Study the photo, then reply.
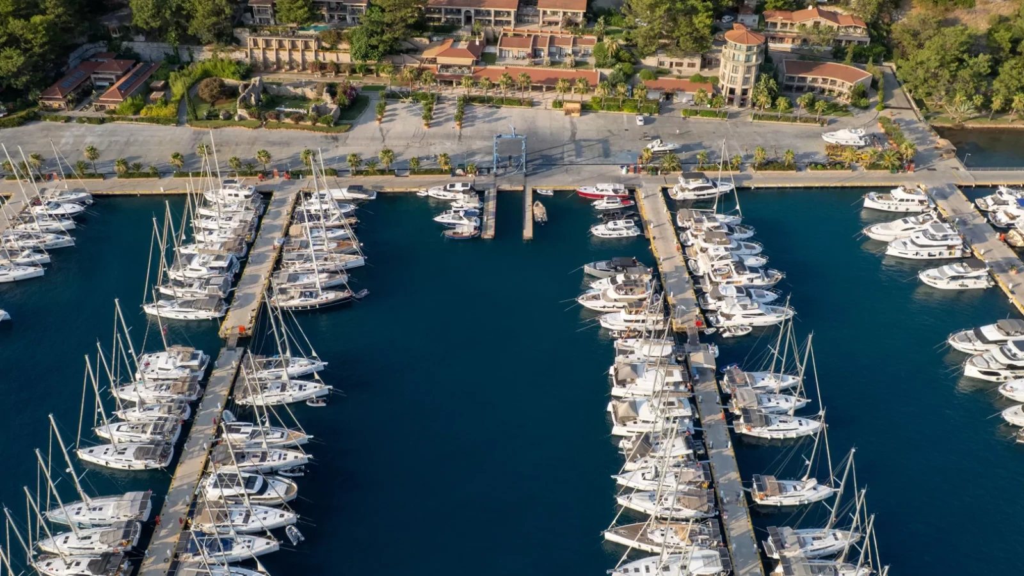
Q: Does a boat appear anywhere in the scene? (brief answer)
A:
Yes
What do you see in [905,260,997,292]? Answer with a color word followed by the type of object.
white boat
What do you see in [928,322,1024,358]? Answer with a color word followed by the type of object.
white boat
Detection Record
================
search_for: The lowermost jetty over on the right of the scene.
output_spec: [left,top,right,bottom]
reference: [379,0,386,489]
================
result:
[683,344,769,576]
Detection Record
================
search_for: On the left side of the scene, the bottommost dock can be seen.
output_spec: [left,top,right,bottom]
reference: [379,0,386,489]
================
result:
[135,346,246,576]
